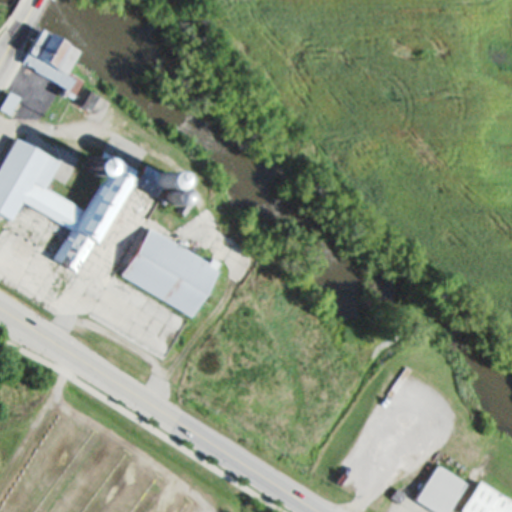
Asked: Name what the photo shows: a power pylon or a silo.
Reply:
silo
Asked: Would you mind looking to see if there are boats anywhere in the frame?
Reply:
No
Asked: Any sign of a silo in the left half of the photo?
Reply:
Yes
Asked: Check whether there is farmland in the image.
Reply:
Yes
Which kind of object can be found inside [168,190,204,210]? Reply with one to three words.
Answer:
silo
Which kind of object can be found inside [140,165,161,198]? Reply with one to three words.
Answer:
shed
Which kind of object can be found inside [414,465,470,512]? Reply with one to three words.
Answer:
building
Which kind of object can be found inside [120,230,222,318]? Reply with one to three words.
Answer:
barn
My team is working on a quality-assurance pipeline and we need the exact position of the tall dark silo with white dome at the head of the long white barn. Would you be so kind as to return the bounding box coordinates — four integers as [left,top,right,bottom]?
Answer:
[83,157,126,180]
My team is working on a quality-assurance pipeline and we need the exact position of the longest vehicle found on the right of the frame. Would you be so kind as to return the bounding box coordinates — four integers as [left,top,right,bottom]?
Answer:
[386,366,408,401]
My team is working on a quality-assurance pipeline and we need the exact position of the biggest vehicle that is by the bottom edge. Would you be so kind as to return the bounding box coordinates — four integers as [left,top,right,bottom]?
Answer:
[338,467,351,488]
